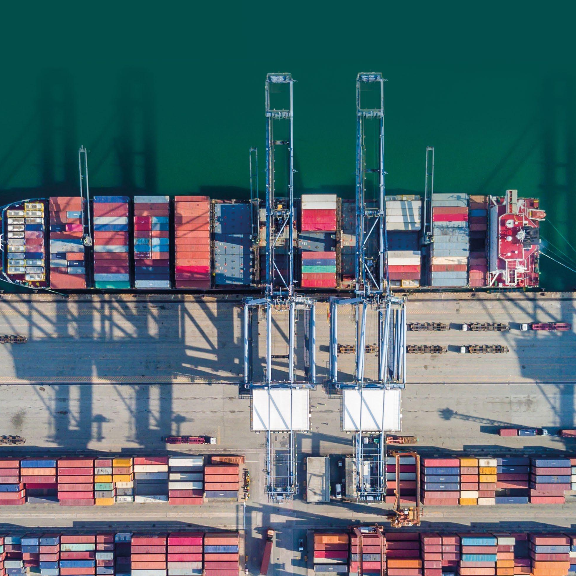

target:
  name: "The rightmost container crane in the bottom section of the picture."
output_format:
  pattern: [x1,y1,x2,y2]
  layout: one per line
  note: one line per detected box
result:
[383,445,422,526]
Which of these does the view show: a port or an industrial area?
port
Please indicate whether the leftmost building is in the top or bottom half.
bottom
